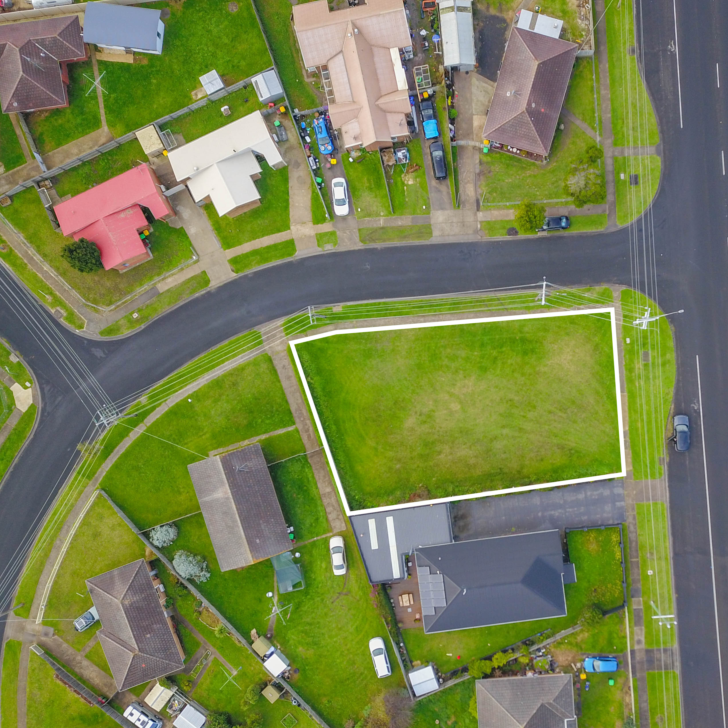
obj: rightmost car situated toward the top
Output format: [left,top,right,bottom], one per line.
[538,215,571,232]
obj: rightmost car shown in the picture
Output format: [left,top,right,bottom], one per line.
[670,415,691,451]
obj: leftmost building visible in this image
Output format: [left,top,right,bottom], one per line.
[0,15,90,116]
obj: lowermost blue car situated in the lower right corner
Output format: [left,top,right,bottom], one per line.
[584,655,618,673]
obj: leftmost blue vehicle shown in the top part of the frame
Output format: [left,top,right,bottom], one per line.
[314,118,334,155]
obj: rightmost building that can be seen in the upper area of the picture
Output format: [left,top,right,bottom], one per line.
[481,9,579,157]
